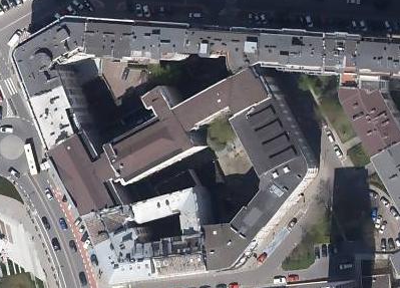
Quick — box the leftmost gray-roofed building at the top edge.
[12,11,93,97]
